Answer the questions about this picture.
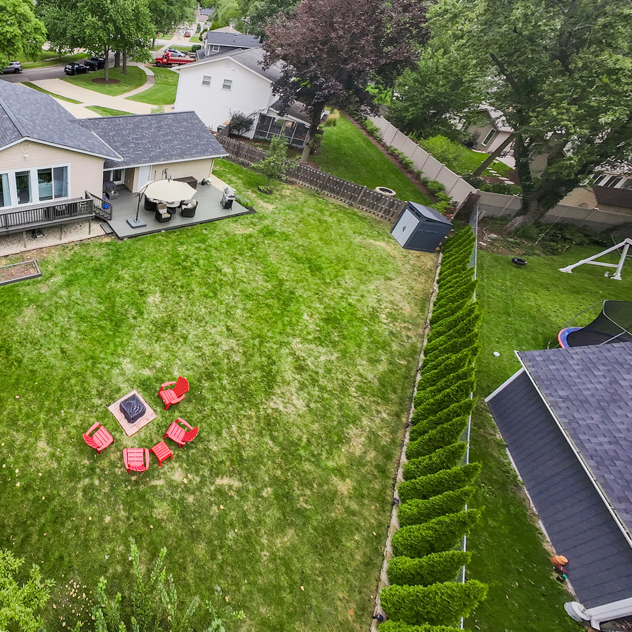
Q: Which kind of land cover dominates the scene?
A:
grass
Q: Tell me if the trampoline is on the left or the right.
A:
right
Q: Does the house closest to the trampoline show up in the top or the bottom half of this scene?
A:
bottom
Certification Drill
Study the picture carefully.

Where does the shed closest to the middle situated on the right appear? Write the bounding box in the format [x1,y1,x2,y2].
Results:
[394,203,456,252]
